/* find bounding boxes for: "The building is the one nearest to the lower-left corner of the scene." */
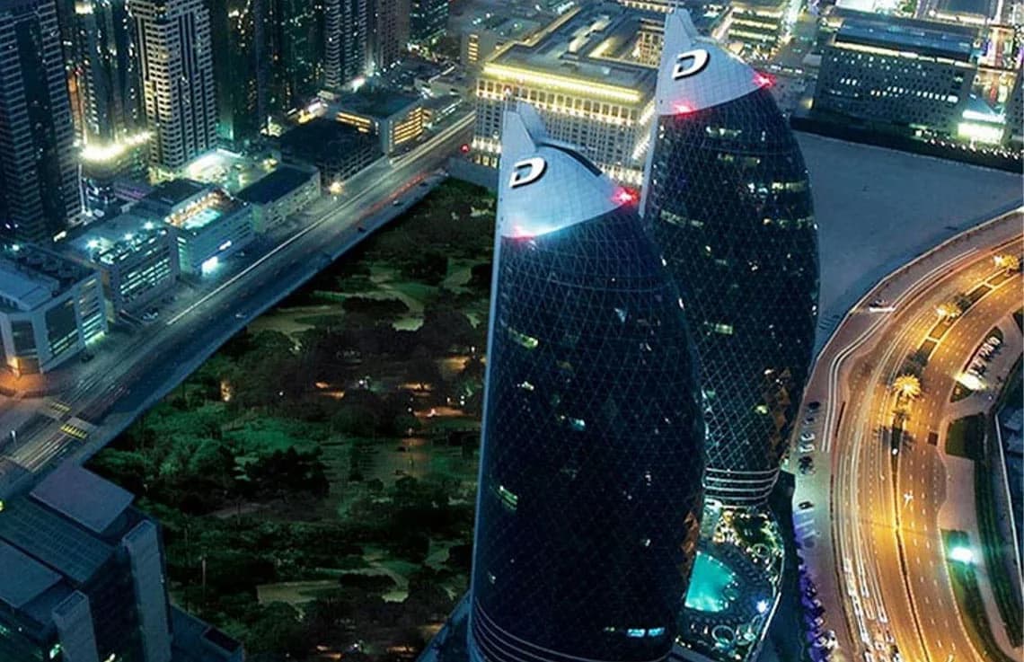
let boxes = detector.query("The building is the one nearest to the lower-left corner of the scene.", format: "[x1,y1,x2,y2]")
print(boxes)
[0,464,243,662]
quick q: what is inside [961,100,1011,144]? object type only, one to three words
building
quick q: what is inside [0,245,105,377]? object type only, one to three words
building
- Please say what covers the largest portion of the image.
buildings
